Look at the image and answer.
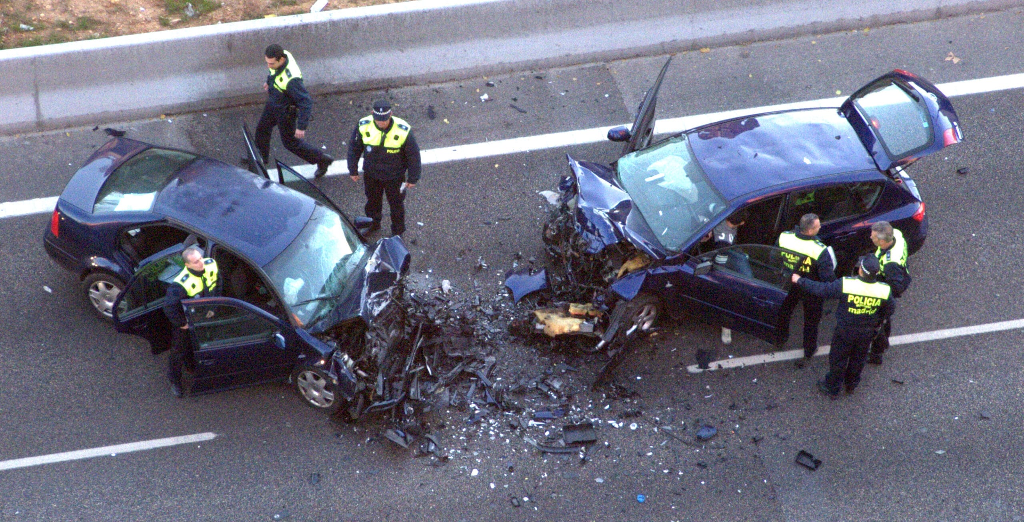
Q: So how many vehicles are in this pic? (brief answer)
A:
two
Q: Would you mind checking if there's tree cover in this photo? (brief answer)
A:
No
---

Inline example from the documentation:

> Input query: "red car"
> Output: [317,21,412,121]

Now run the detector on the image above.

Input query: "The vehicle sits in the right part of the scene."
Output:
[515,66,958,383]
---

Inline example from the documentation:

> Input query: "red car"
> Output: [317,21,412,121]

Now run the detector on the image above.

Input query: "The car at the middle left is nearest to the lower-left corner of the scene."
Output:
[47,128,445,415]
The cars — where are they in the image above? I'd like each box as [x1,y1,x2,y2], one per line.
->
[515,66,958,383]
[47,128,445,415]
